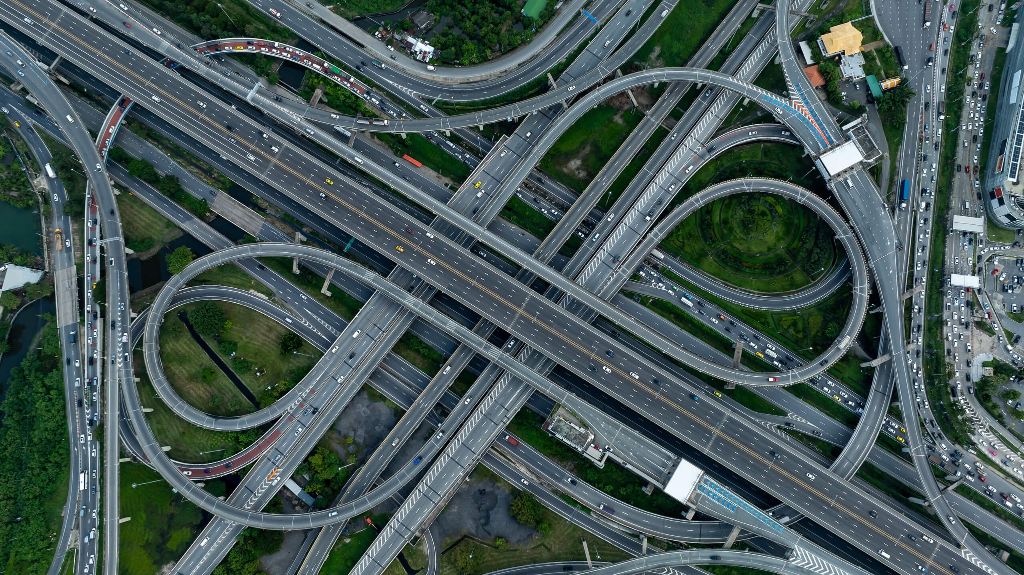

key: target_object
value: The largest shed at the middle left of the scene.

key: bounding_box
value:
[1,263,47,292]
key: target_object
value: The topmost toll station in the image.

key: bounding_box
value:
[820,139,864,177]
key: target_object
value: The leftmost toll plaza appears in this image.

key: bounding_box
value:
[659,458,706,504]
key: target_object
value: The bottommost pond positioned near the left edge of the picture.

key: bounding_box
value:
[0,200,42,261]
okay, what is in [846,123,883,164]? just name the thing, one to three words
building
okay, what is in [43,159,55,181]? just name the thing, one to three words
vehicle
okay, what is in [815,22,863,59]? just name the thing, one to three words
house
